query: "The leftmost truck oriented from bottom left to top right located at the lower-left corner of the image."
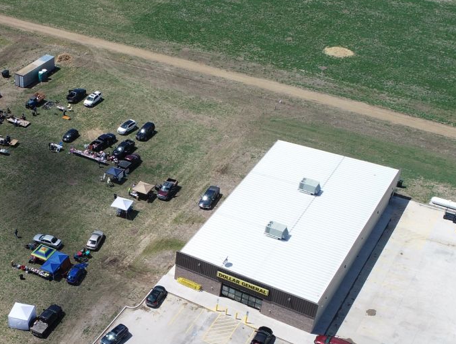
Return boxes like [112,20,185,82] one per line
[29,304,64,338]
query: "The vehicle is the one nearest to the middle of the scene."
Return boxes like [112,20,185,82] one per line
[201,186,221,209]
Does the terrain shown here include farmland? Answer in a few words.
Yes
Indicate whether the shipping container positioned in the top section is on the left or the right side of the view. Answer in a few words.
left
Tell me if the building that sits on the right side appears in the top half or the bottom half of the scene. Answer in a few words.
bottom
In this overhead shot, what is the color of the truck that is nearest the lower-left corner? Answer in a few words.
black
